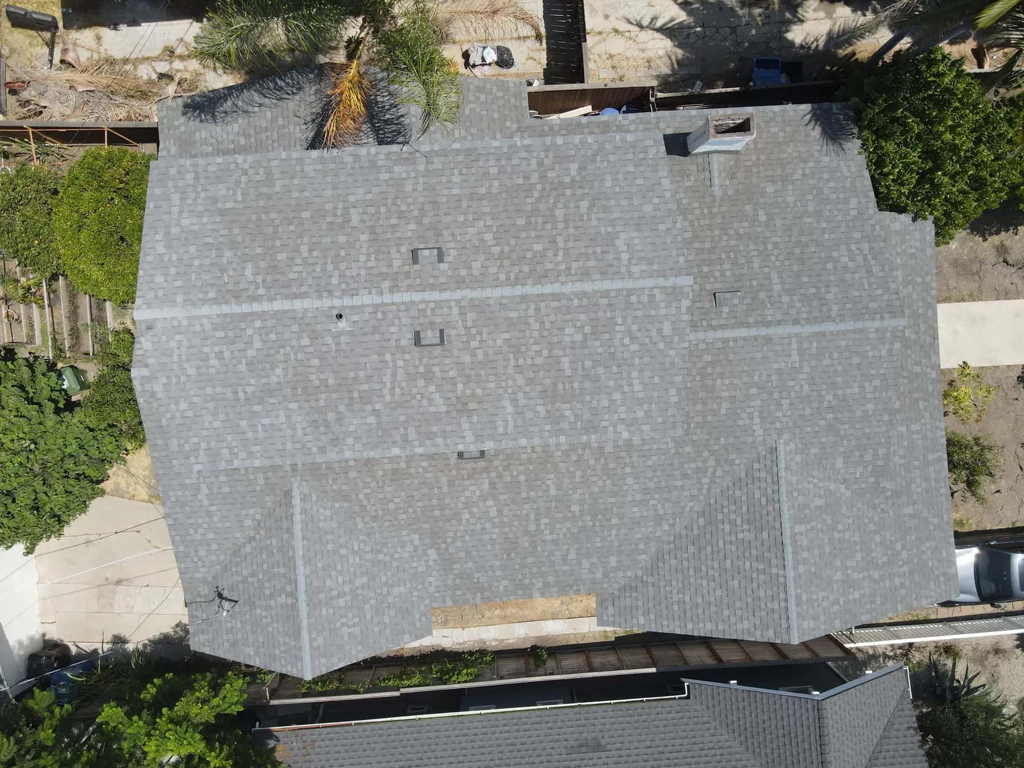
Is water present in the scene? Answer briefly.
No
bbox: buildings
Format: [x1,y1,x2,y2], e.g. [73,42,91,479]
[252,640,932,768]
[130,63,953,682]
[0,552,50,725]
